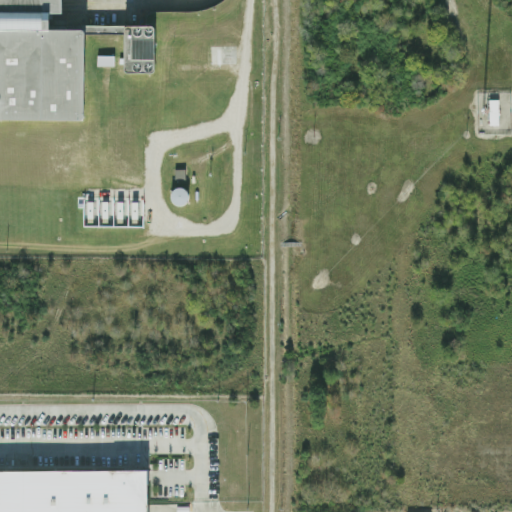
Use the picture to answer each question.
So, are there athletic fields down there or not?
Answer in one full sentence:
No, the frame has no athletic field in it.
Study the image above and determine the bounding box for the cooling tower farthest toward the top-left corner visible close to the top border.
[124,26,156,73]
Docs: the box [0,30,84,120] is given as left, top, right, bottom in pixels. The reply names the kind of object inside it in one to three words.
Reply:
building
